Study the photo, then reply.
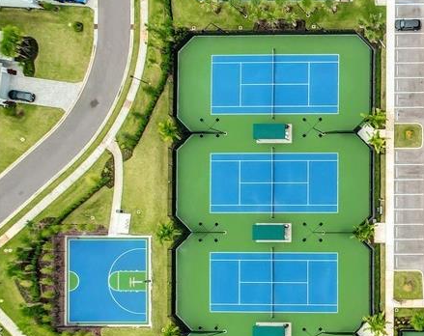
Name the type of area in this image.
sports ground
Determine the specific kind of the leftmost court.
basketball court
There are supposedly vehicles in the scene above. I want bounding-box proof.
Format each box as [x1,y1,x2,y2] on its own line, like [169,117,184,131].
[395,17,421,31]
[51,0,88,5]
[8,90,38,102]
